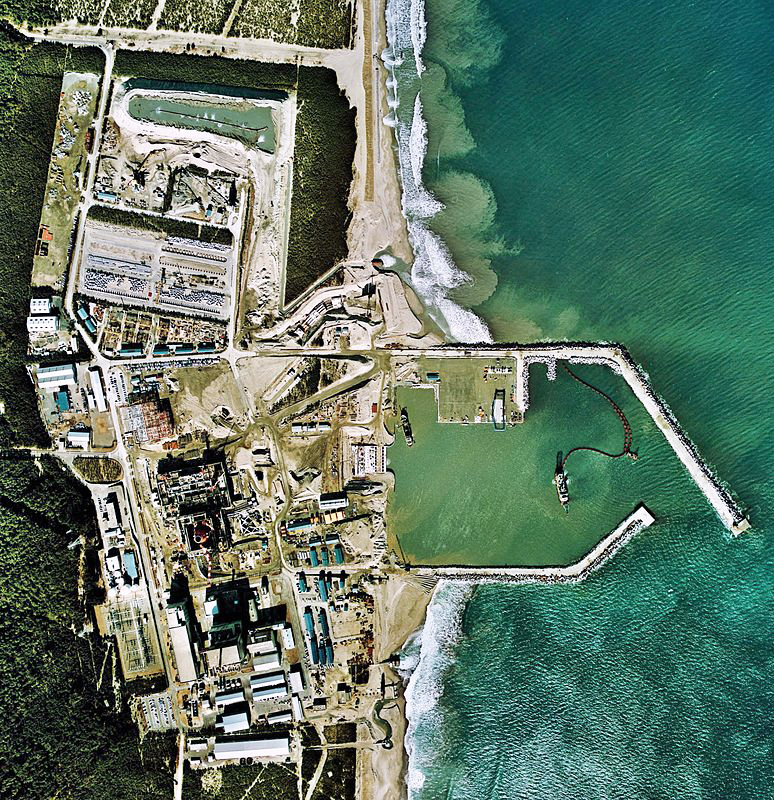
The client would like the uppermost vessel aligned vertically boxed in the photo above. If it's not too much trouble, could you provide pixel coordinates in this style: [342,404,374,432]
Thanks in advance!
[399,409,412,446]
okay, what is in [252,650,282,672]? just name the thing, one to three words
building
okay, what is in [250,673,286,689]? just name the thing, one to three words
shed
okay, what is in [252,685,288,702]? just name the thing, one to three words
shed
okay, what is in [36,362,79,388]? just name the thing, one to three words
building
